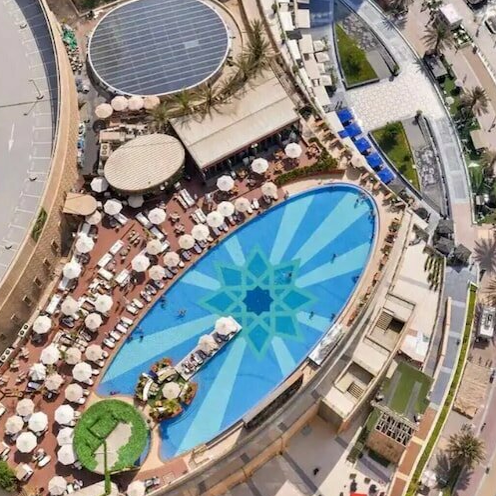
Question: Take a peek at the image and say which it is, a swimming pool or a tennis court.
swimming pool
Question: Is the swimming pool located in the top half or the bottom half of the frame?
bottom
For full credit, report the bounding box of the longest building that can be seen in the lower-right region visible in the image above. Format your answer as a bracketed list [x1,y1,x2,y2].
[317,296,415,434]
